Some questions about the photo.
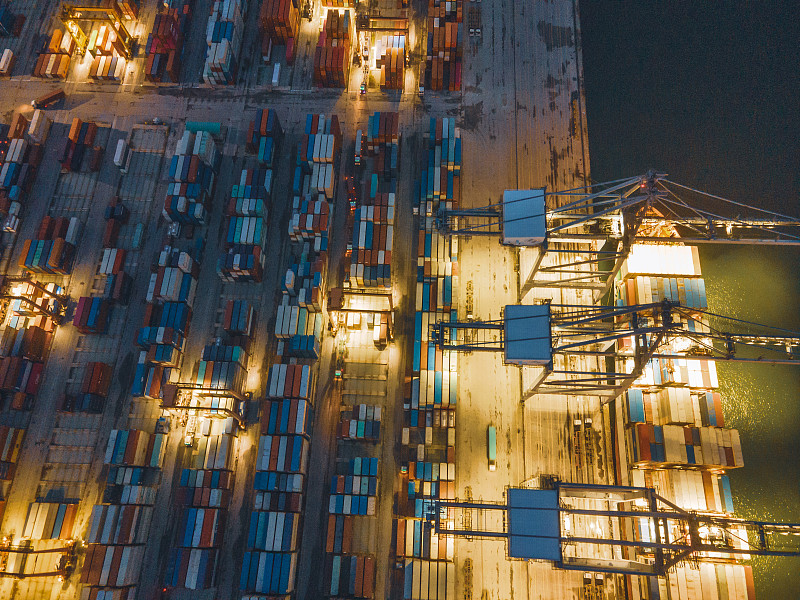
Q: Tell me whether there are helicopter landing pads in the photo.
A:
No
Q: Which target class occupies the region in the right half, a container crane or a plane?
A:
container crane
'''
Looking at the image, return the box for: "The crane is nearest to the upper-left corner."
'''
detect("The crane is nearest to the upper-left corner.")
[64,4,142,56]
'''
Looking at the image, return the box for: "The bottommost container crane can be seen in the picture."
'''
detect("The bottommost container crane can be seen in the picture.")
[0,533,80,580]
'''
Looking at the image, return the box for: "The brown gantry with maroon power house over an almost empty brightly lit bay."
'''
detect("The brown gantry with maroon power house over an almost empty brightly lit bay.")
[321,288,400,335]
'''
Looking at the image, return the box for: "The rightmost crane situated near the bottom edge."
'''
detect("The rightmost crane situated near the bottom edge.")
[421,473,800,577]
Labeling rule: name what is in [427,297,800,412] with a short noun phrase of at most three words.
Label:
container crane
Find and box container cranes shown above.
[432,175,800,305]
[421,473,800,577]
[427,297,800,412]
[64,4,142,56]
[157,382,252,426]
[0,533,80,580]
[0,277,72,323]
[321,288,400,335]
[352,14,415,67]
